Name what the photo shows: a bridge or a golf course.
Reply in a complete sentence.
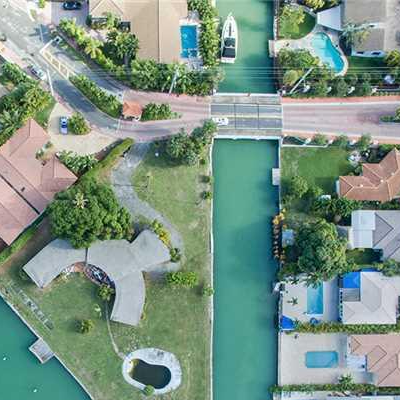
Looking from above, you can make out a bridge.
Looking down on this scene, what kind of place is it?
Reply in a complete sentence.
The area seen from above is a residential area.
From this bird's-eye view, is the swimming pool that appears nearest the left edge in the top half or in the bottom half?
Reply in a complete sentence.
It is in the bottom half that the swimming pool that appears nearest the left edge appears.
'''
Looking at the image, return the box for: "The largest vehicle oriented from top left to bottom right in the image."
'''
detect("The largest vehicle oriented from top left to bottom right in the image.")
[30,64,46,80]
